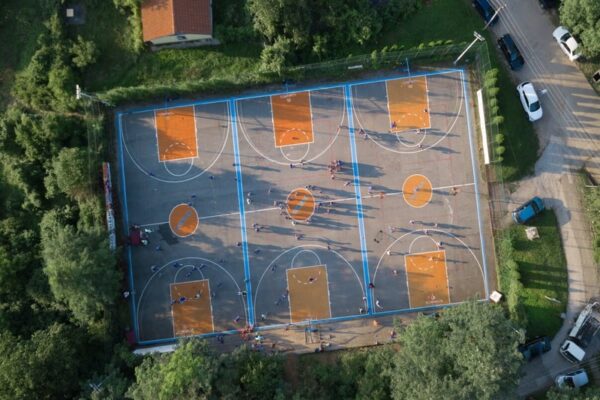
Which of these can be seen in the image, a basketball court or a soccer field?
basketball court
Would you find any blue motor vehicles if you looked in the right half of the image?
Yes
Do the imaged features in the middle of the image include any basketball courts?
Yes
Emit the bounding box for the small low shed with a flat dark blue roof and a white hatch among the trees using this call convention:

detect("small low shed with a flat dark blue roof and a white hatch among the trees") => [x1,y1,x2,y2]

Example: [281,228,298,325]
[64,4,90,29]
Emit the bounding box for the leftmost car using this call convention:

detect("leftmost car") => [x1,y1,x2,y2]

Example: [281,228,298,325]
[468,0,498,29]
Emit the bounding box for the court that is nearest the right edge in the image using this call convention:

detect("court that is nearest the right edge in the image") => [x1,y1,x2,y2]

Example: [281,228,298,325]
[351,68,488,313]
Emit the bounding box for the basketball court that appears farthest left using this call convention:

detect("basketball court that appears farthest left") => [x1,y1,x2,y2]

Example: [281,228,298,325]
[117,96,257,344]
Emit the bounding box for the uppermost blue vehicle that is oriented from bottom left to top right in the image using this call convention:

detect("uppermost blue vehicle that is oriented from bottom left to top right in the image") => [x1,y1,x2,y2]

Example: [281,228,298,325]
[509,196,544,224]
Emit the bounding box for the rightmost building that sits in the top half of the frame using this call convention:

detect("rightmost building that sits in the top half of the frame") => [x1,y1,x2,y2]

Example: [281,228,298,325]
[140,0,213,54]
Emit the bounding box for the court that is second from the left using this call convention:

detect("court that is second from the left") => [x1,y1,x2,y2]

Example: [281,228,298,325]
[236,82,373,328]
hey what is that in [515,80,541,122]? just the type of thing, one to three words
car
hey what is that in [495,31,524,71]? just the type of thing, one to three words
car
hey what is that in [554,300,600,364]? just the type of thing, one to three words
truck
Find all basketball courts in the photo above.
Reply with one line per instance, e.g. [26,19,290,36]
[351,68,488,313]
[236,82,373,328]
[117,96,257,344]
